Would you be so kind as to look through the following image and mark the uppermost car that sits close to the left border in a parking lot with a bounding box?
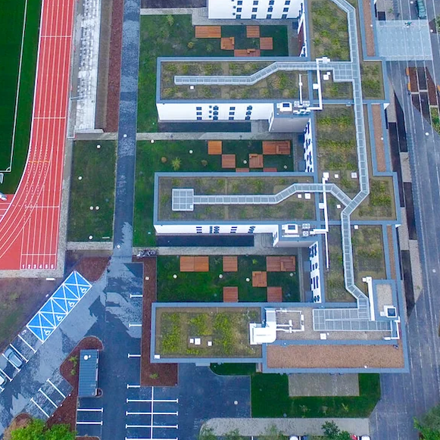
[5,349,25,370]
